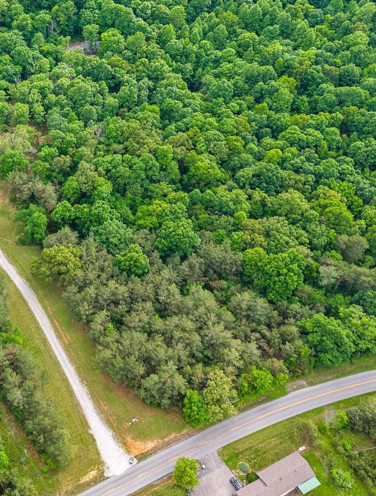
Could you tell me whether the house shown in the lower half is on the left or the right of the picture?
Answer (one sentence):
The house shown in the lower half sits on the right side.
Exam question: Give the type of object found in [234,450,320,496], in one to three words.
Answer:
house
